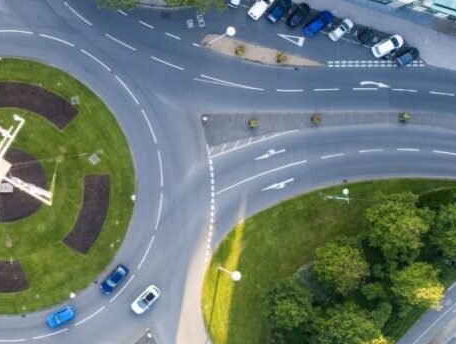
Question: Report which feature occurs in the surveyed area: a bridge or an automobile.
automobile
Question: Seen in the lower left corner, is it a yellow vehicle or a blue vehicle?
blue vehicle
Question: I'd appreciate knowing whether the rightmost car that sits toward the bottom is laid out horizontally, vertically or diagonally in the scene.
diagonally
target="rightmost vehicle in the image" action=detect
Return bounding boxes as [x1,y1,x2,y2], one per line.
[395,45,422,68]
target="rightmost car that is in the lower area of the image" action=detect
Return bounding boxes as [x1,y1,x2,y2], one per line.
[130,284,163,317]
